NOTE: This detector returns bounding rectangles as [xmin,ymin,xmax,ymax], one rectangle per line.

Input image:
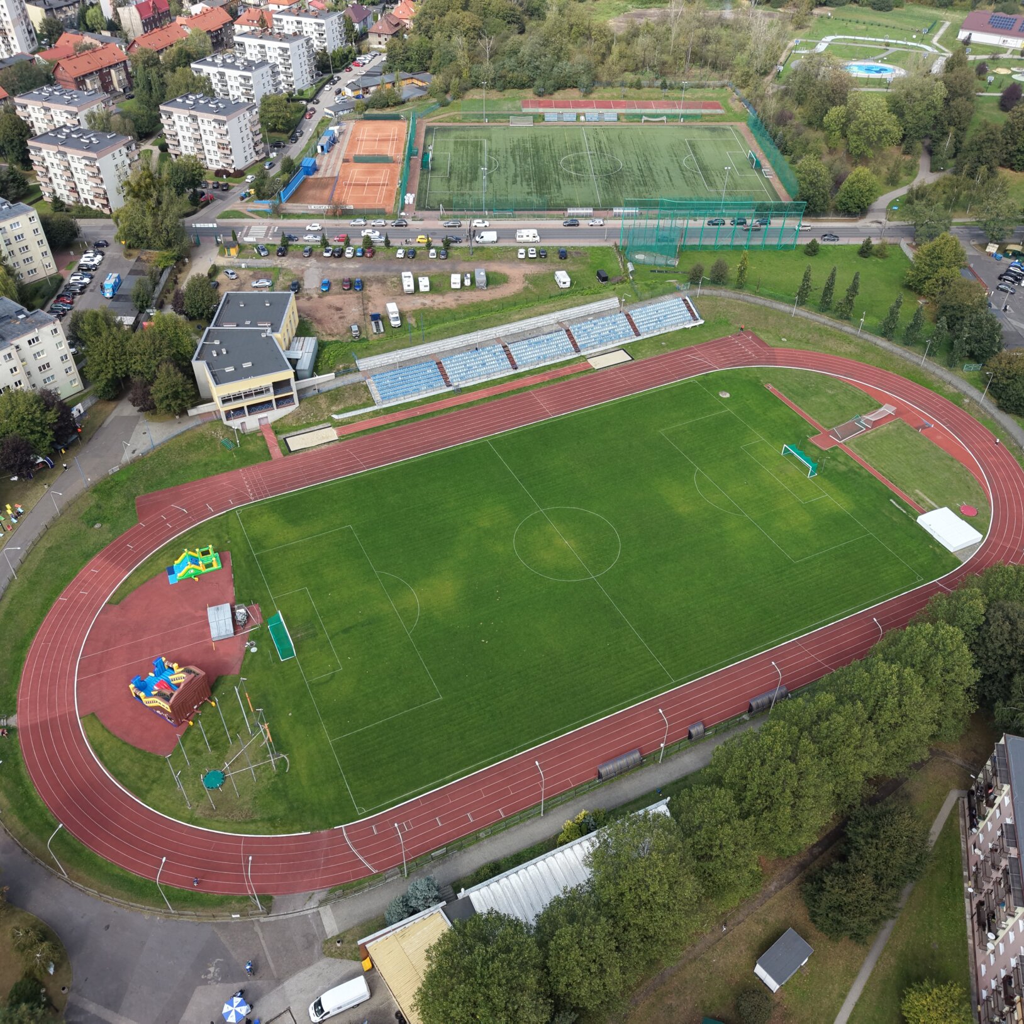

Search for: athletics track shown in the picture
[15,348,1024,897]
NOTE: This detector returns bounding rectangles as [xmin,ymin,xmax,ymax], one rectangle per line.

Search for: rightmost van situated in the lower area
[310,977,369,1022]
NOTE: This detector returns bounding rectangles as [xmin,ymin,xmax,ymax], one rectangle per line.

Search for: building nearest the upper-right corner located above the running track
[957,10,1024,49]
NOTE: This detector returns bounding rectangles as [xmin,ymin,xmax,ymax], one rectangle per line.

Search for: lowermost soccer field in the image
[237,380,922,813]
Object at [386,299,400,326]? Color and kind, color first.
white vehicle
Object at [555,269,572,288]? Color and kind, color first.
white camper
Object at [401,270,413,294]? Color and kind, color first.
white vehicle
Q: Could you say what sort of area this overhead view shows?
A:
sports ground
